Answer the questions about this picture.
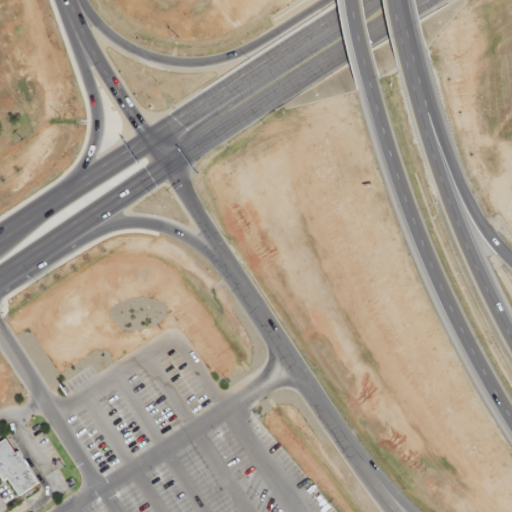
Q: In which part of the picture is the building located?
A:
bottom left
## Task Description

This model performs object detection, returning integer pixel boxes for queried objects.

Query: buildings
[0,438,40,496]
